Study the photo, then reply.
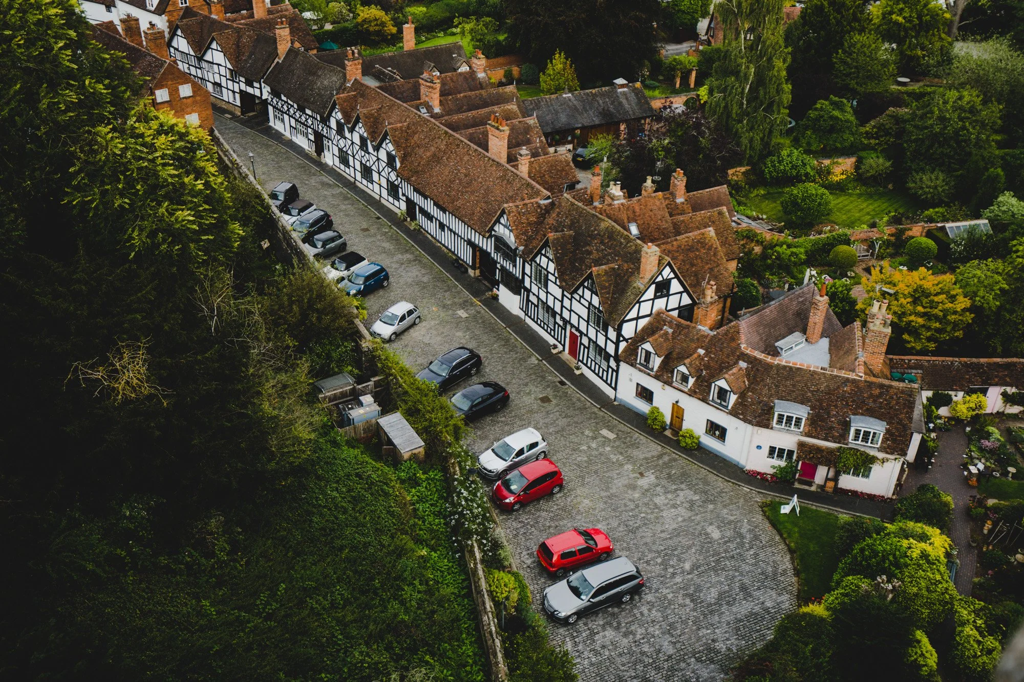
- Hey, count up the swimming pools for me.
0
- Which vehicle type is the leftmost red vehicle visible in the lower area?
automobile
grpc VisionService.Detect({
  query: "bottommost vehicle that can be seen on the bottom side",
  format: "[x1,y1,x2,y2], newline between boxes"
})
[541,556,644,624]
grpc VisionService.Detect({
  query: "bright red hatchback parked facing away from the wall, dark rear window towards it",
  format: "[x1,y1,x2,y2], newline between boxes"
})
[535,526,612,577]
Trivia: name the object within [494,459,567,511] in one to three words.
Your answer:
car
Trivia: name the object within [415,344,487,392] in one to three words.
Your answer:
car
